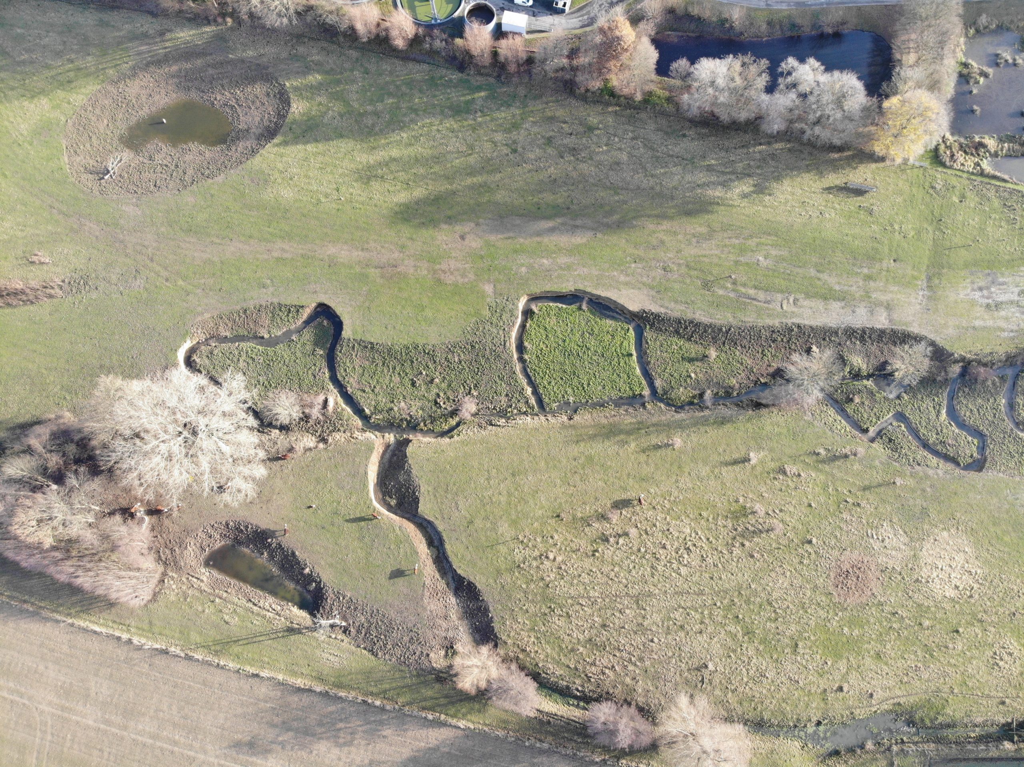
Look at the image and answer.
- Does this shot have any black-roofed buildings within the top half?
No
